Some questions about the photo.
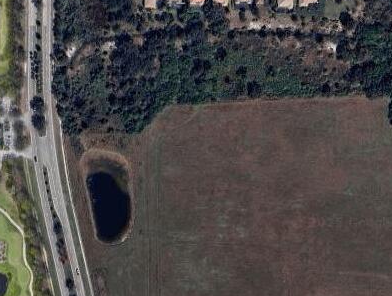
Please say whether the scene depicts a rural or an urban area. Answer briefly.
rural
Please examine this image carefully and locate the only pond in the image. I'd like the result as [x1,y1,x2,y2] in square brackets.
[86,171,131,239]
